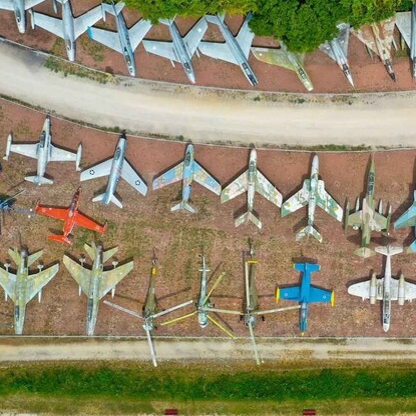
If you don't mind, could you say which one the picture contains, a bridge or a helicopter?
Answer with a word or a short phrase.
helicopter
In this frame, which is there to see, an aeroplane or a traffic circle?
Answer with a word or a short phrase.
aeroplane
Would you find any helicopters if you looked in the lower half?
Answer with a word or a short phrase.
Yes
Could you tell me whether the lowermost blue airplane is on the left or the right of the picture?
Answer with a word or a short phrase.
right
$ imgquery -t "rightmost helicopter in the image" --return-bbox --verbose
[205,246,300,363]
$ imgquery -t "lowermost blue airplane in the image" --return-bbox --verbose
[276,261,335,335]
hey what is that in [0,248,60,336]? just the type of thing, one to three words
airplane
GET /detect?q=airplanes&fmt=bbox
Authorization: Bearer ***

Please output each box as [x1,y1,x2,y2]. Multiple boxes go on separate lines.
[350,247,416,332]
[220,145,281,228]
[0,248,60,336]
[35,187,108,239]
[78,132,145,208]
[144,13,209,84]
[5,117,81,186]
[394,0,416,81]
[276,261,335,335]
[0,0,42,33]
[30,0,105,62]
[343,157,390,259]
[350,5,395,81]
[280,155,341,242]
[313,7,353,84]
[197,7,261,86]
[252,22,312,92]
[88,0,153,78]
[64,243,133,336]
[152,142,220,213]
